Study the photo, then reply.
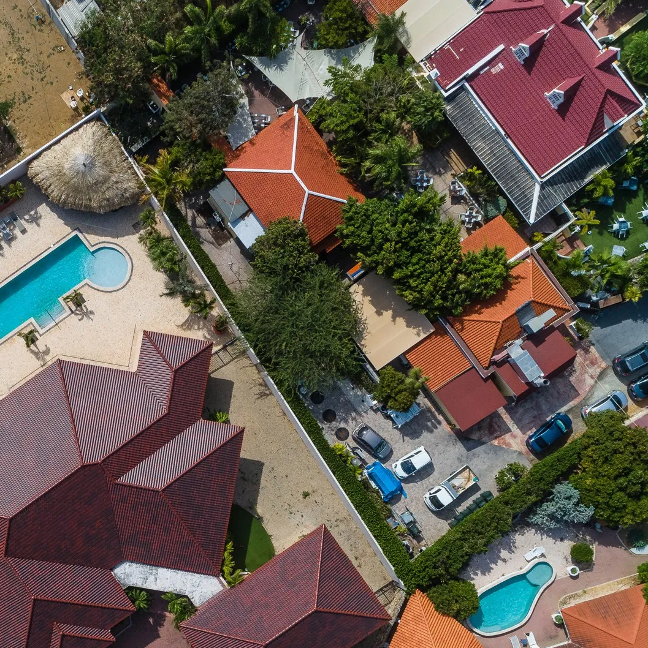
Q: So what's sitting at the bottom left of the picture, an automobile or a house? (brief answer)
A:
house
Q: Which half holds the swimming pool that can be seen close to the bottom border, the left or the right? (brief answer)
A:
right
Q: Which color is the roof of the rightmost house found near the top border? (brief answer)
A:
red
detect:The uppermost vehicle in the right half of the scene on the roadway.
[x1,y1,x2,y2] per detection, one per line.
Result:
[607,340,648,380]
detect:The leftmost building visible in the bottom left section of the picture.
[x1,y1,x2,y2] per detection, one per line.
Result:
[0,330,246,648]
